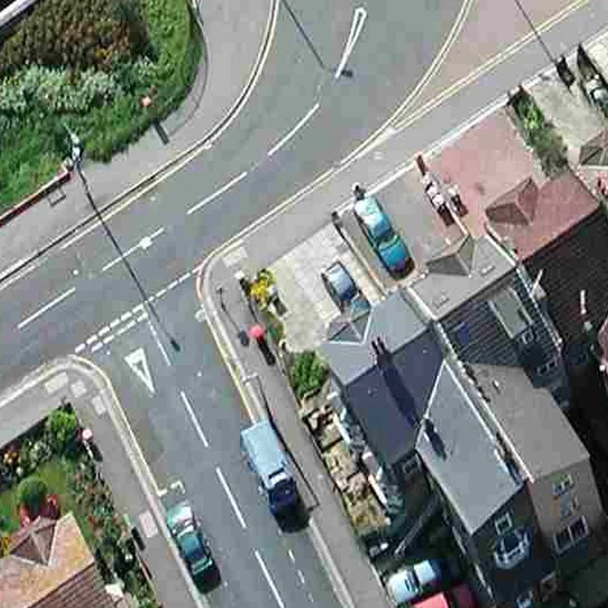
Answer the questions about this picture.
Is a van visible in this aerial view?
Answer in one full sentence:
Yes, there is a van in the image.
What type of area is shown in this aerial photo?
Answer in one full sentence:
This looks like a residential area.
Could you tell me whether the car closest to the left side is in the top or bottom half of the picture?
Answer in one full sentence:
The bottom half of the photo is where the car closest to the left side is.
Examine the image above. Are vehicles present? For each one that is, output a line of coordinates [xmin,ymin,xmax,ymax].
[235,418,296,514]
[327,265,375,314]
[357,200,410,274]
[392,555,467,607]
[164,508,216,582]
